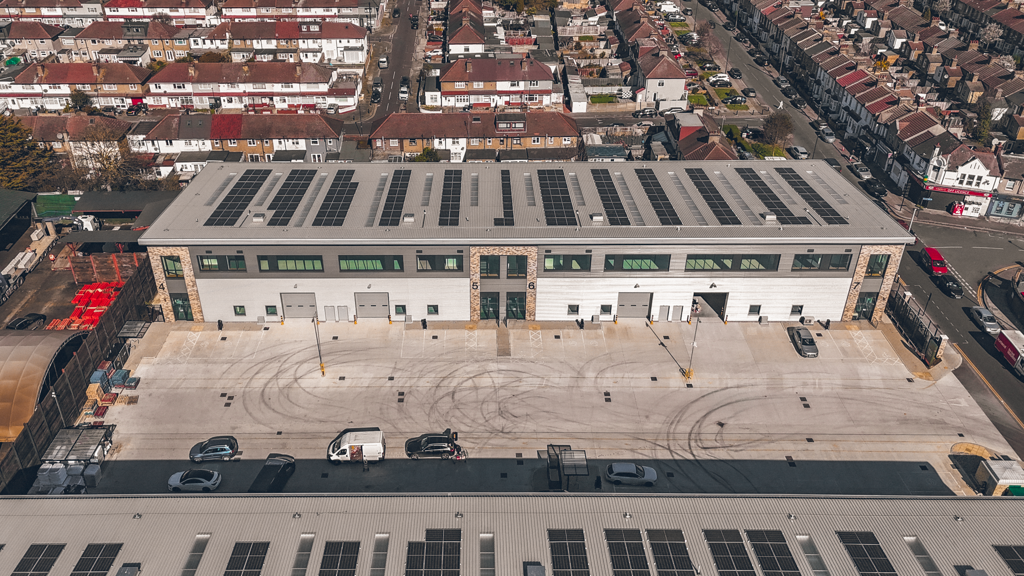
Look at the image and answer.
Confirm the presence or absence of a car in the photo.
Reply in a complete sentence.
Yes, this view includes a car.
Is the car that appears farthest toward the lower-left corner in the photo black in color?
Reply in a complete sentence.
Yes, black is the color of the car that appears farthest toward the lower-left corner.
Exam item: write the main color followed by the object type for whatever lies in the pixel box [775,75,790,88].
gray vehicle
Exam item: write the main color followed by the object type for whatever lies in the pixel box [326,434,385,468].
white van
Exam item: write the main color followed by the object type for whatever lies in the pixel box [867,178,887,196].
black car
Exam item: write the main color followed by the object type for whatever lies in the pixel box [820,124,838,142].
gray car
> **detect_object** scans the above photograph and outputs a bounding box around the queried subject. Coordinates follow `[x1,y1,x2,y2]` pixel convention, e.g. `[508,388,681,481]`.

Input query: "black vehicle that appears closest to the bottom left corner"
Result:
[166,470,221,494]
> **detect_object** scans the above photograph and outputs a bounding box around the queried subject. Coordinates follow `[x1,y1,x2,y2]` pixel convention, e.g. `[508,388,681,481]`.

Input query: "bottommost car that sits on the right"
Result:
[605,464,659,489]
